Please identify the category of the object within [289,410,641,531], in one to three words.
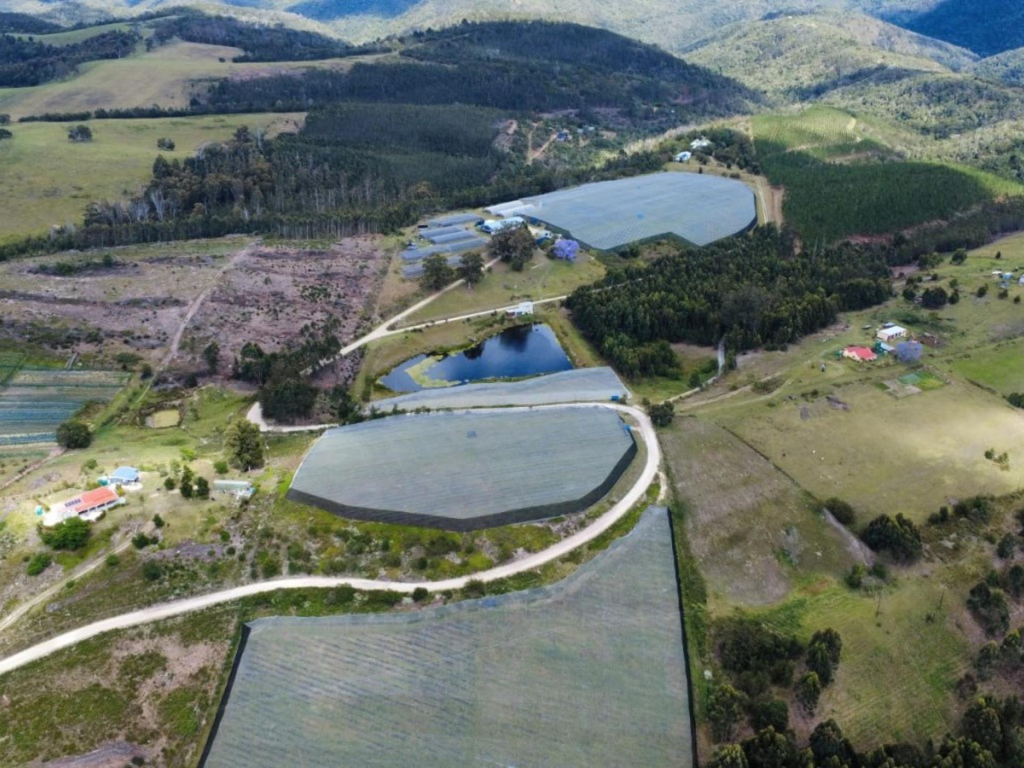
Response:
house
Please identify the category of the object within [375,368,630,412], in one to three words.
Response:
house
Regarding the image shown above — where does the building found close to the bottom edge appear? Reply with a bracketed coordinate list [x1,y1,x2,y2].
[201,508,695,768]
